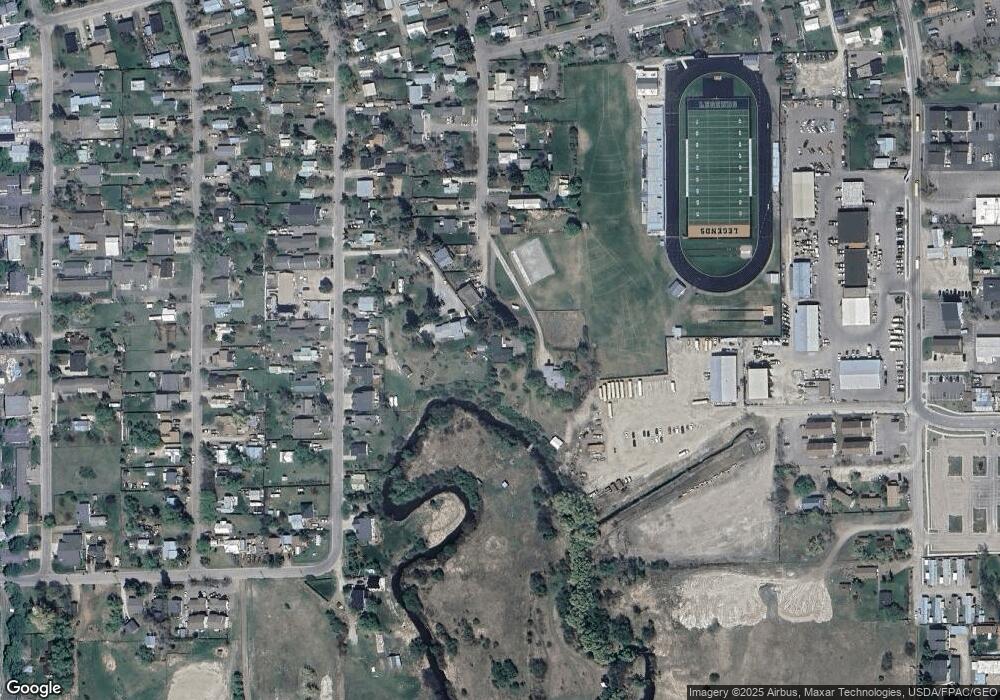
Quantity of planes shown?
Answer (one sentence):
The count of planes is 0.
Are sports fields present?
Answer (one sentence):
Yes, the picture does show a sports field.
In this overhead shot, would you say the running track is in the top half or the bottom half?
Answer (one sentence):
It is in the top half that the running track appears.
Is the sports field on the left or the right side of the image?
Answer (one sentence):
The sports field appears in the right half of the scene.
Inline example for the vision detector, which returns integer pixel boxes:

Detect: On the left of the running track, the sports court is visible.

[516,238,555,286]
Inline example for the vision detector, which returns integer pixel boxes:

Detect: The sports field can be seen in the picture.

[680,72,759,276]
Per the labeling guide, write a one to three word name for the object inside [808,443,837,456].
building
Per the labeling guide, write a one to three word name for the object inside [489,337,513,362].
house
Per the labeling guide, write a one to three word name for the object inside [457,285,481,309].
house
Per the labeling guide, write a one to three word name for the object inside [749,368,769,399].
building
